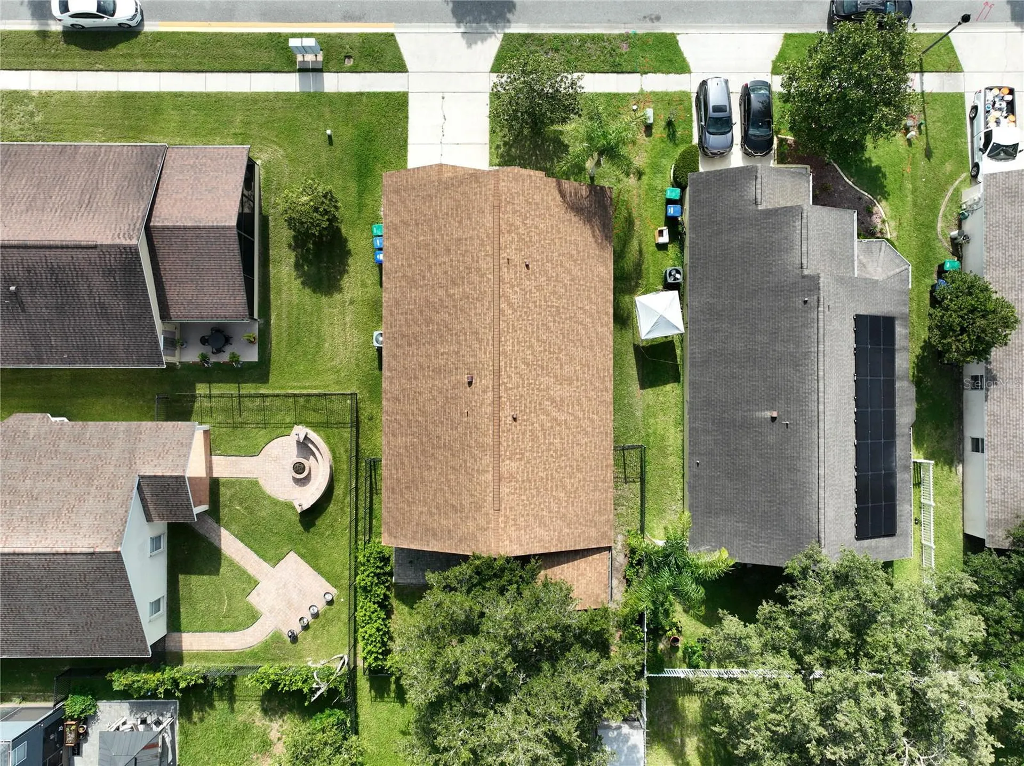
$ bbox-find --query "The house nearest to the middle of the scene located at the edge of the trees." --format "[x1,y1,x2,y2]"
[383,164,613,613]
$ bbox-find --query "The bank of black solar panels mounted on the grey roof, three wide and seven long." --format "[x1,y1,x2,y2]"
[854,314,897,539]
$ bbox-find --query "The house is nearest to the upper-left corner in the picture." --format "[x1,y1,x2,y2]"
[0,141,260,369]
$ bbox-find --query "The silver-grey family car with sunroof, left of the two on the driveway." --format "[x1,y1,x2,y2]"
[696,78,735,160]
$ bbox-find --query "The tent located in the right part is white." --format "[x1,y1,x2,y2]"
[630,286,684,365]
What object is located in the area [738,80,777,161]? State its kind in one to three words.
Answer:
car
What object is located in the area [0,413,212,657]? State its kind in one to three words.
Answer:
house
